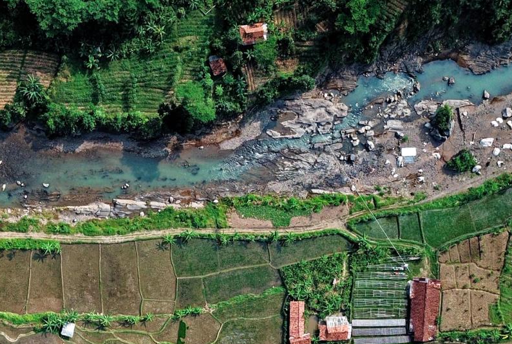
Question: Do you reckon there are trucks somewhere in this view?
No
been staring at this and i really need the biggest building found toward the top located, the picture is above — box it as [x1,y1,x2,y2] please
[237,22,268,51]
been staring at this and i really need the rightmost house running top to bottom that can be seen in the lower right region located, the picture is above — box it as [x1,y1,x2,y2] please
[403,276,438,343]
